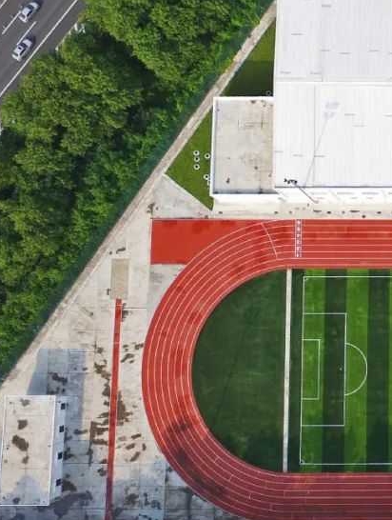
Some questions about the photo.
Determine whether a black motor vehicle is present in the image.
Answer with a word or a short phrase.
No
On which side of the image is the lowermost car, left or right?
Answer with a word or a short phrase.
left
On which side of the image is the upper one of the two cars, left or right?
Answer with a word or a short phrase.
left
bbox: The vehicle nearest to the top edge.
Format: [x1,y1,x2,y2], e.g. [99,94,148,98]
[16,0,39,23]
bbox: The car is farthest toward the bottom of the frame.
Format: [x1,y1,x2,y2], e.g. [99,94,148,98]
[9,38,32,61]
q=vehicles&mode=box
[9,38,32,61]
[16,0,39,23]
